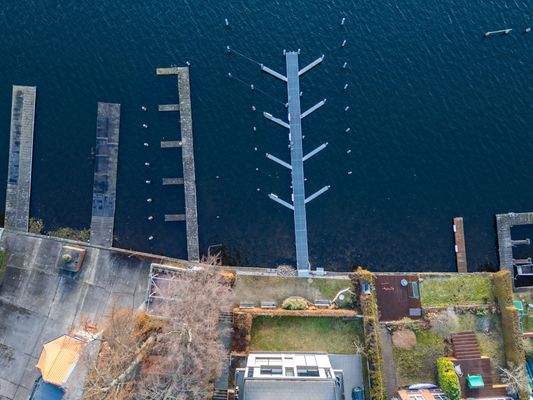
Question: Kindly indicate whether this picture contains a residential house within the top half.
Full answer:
No, looking within the top half, there is no residential house.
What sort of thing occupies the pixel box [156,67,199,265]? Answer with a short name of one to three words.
pier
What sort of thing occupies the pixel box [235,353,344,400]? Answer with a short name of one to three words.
house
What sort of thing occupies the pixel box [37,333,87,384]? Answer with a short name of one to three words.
house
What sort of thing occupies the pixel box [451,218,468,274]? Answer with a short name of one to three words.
pier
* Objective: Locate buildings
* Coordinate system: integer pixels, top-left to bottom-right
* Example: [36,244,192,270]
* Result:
[37,333,87,384]
[395,382,448,400]
[235,353,344,400]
